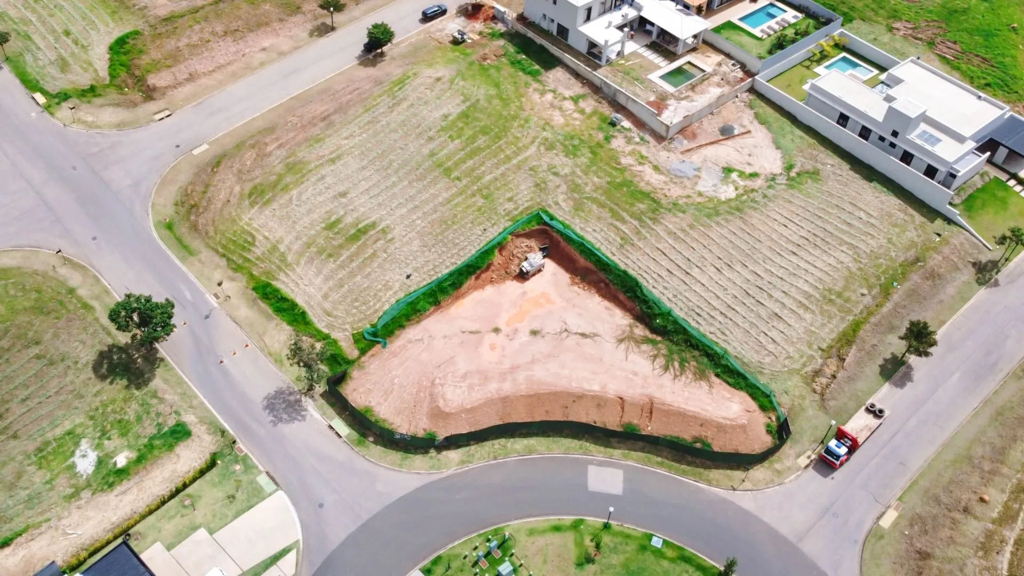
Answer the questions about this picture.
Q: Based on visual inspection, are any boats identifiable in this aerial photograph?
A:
No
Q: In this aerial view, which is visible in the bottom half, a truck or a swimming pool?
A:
truck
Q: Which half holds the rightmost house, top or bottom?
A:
top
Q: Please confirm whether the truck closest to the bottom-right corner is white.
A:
Yes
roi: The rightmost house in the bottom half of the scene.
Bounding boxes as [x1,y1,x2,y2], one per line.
[79,540,155,576]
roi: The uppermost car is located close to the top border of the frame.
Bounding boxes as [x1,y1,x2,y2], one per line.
[420,6,447,23]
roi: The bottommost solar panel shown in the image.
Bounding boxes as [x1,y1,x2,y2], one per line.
[916,131,947,150]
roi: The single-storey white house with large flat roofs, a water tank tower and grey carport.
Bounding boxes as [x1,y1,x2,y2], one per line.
[801,50,1024,192]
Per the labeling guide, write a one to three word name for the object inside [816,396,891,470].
truck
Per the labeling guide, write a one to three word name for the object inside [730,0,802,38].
swimming pool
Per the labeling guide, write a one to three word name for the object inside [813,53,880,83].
swimming pool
